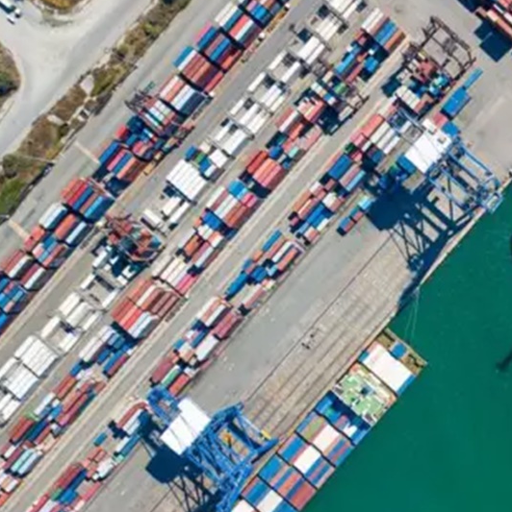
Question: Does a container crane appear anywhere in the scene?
Yes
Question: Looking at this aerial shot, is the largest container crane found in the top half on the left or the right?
right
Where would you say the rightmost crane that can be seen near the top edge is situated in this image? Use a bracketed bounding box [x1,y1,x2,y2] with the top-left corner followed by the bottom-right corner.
[409,19,479,90]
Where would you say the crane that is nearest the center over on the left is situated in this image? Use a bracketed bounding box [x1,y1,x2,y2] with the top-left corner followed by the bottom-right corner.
[100,210,174,268]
